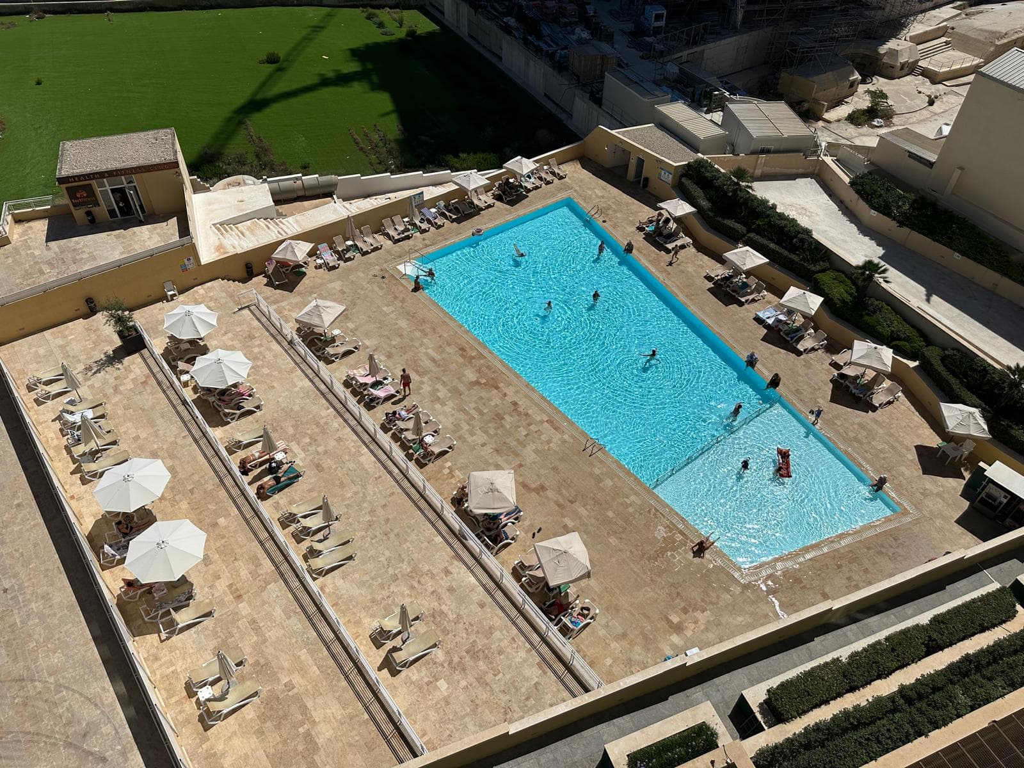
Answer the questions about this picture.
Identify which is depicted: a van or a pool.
pool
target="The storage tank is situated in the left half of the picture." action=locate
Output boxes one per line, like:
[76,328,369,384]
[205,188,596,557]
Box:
[263,172,337,201]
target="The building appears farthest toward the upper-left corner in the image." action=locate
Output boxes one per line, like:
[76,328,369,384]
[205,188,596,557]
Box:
[56,128,186,225]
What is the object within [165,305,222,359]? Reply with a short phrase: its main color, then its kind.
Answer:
white umbrella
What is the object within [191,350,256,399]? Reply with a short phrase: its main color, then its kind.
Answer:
white umbrella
